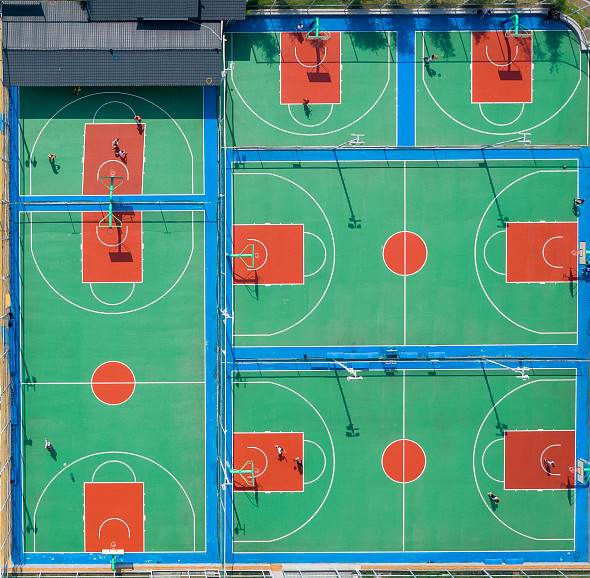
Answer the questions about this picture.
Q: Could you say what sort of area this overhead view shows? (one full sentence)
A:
It's a sports ground.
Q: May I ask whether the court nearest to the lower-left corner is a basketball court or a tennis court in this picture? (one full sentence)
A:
From above, the court nearest to the lower-left corner can be identified as a basketball court.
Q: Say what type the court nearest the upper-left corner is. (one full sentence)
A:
I'd identify the court nearest the upper-left corner as a basketball court.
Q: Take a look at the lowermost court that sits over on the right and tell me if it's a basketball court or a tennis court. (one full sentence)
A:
I'd identify the lowermost court that sits over on the right as a basketball court.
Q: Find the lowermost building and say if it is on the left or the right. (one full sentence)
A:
The lowermost building sits on the left side.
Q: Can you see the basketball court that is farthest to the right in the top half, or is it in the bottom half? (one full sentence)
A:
The basketball court that is farthest to the right sits in the top half of the picture.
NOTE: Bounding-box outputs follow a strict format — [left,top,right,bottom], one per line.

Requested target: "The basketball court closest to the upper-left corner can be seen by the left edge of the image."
[18,85,205,196]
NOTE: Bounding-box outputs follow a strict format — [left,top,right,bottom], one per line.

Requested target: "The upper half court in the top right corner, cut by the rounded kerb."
[415,29,590,148]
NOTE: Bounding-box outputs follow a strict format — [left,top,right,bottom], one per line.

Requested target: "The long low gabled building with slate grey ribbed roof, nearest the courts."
[0,20,223,86]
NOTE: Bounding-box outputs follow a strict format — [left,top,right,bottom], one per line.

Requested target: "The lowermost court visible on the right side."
[232,368,576,553]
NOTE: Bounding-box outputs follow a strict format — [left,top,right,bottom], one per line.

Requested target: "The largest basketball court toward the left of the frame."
[19,210,206,553]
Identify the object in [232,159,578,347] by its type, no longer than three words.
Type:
basketball court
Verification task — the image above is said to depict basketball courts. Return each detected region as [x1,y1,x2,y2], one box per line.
[18,85,205,196]
[415,29,590,148]
[232,159,578,347]
[232,368,576,553]
[19,210,206,553]
[223,31,398,149]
